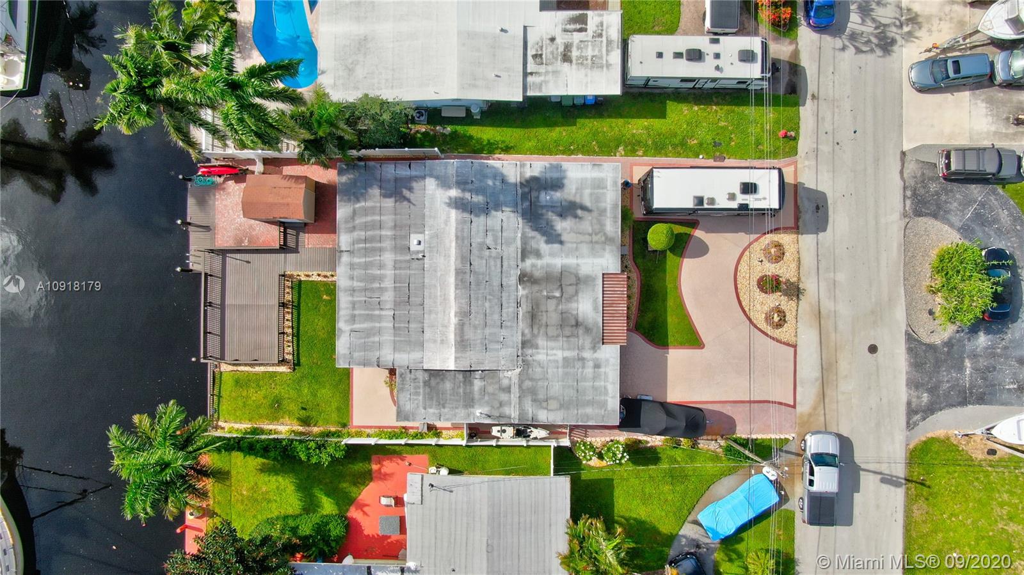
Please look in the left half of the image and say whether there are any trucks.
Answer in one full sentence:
No, looking in the left half of the image, there is no truck.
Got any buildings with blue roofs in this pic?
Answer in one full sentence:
No, the picture doesn't show any building with a blue roof.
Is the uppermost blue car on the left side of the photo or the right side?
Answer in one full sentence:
You can find the uppermost blue car on the right side of the picture.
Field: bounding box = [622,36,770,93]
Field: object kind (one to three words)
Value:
vehicle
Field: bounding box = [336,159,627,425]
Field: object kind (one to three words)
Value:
house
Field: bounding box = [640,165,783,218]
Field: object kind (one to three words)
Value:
camper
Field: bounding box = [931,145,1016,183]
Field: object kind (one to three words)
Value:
car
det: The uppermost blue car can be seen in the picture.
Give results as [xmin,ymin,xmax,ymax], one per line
[800,0,836,30]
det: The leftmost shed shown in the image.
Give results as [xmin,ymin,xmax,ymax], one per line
[242,176,316,221]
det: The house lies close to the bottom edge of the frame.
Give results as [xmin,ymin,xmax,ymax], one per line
[404,470,571,575]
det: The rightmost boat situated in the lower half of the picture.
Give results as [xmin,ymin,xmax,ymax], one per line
[987,410,1024,443]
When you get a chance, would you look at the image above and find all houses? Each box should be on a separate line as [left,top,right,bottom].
[317,0,622,104]
[404,470,571,575]
[336,159,627,425]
